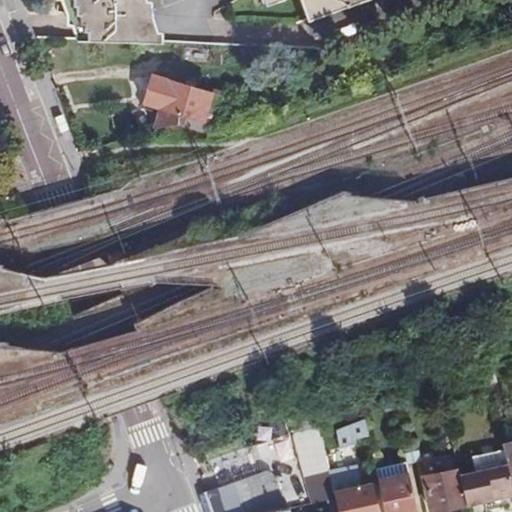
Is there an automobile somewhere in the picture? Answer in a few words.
Yes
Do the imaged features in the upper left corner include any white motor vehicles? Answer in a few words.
Yes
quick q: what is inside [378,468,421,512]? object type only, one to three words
house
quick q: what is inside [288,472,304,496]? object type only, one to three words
car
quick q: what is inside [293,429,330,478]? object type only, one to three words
building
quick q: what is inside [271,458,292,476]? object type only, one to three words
car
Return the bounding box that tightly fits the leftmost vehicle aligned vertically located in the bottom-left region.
[130,461,146,494]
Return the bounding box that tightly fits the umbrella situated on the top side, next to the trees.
[341,24,357,36]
